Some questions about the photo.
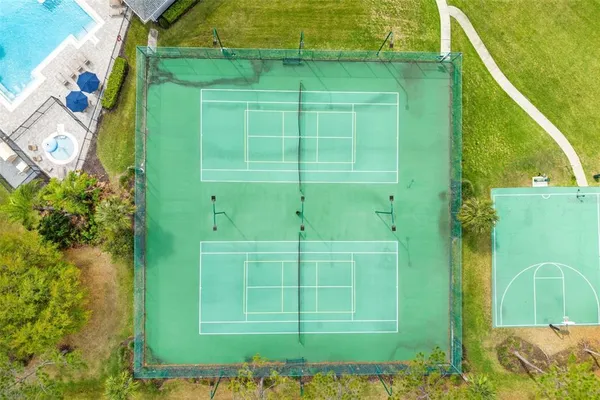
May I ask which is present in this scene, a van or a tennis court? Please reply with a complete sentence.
This aerial view contains a tennis court.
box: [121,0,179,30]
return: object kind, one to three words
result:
building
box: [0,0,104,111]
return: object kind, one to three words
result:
swimming pool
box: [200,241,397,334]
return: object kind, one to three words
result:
tennis court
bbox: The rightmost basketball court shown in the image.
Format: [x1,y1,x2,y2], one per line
[492,187,600,328]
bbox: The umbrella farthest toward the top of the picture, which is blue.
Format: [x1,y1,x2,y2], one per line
[76,70,102,94]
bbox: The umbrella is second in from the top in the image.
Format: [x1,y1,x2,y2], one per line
[66,90,91,114]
